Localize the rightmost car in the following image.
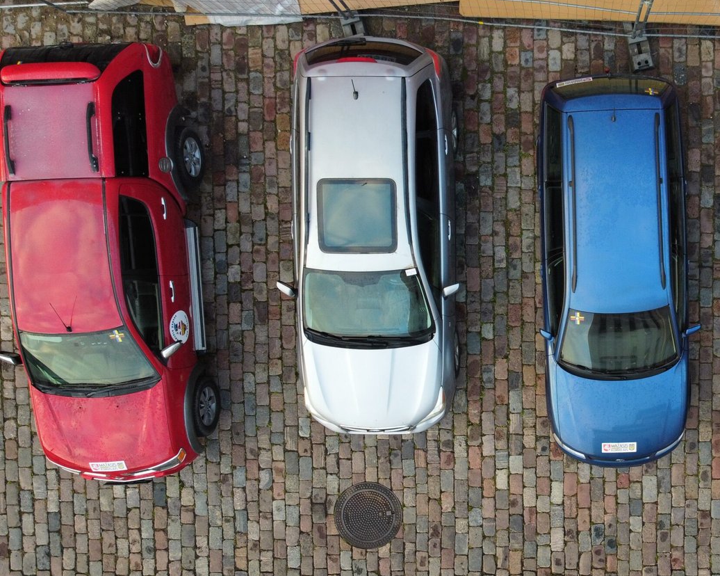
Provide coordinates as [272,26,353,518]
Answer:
[534,66,703,468]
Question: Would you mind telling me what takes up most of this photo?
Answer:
paved ground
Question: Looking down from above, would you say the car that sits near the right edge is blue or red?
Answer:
blue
